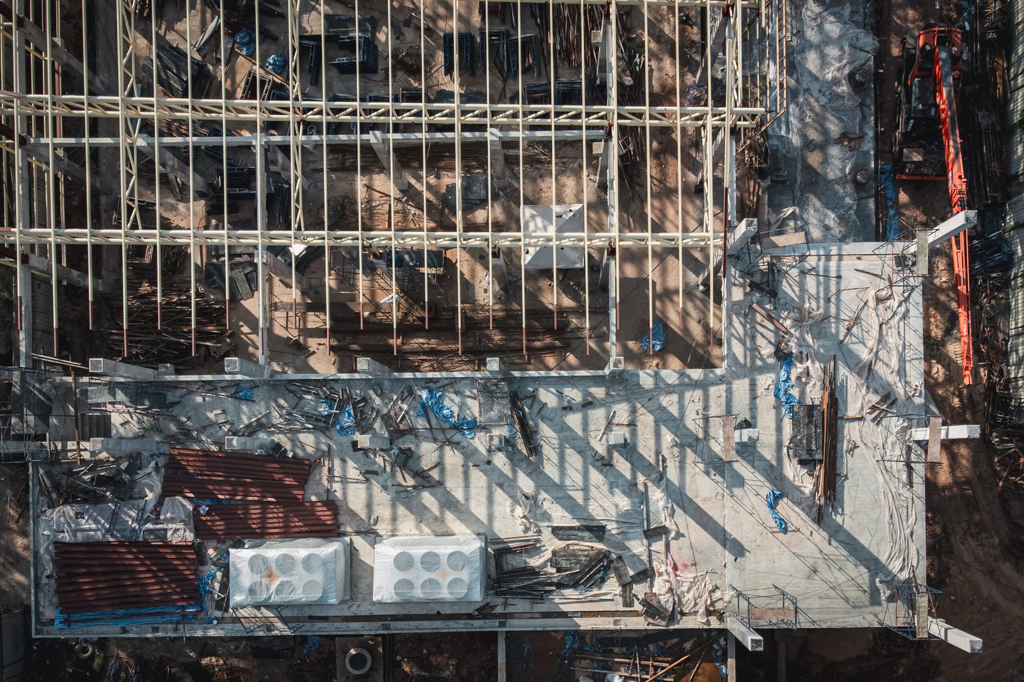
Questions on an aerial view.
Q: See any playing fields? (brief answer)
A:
No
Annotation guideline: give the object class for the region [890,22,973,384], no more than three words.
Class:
crane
